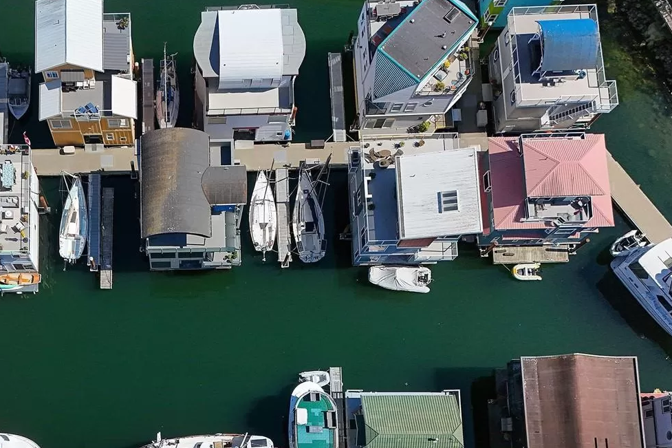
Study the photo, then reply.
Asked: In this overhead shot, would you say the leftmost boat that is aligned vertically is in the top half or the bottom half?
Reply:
top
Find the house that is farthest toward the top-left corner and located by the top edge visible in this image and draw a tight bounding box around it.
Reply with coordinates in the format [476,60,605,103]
[34,0,138,150]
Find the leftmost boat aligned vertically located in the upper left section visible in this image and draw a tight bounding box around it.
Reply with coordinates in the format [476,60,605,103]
[6,61,30,119]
